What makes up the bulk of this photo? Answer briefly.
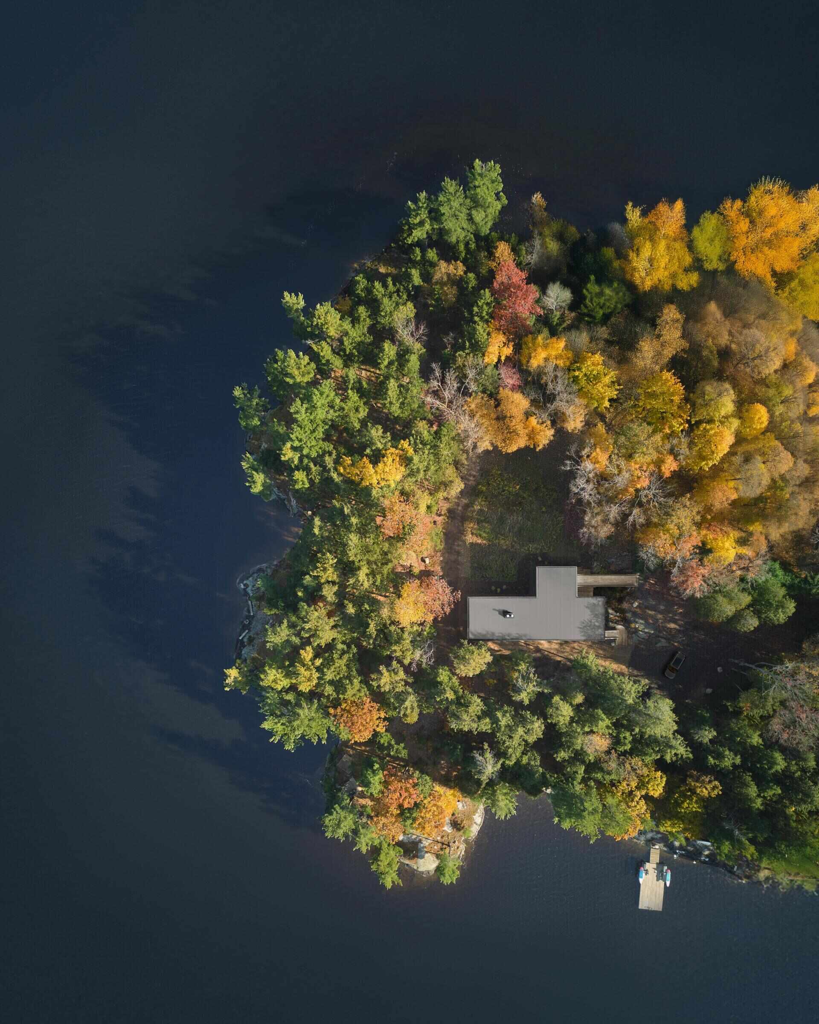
water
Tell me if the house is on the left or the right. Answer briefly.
right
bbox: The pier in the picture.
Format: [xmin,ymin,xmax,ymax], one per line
[638,848,666,912]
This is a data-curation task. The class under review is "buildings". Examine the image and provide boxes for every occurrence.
[468,567,605,640]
